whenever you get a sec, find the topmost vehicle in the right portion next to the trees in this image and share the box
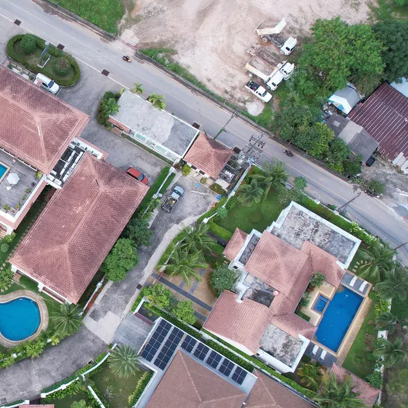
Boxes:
[256,22,300,58]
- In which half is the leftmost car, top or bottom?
top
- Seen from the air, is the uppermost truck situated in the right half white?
Yes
